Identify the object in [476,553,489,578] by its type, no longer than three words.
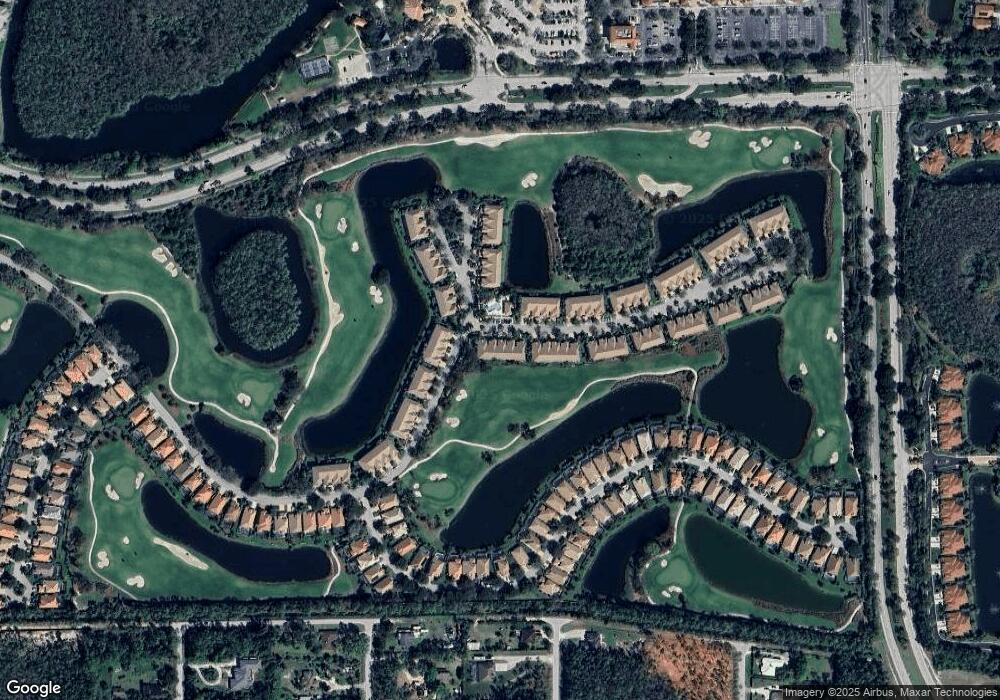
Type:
house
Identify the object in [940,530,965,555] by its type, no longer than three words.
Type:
house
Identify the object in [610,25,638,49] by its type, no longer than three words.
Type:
building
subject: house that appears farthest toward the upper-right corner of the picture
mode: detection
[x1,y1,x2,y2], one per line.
[974,1,994,29]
